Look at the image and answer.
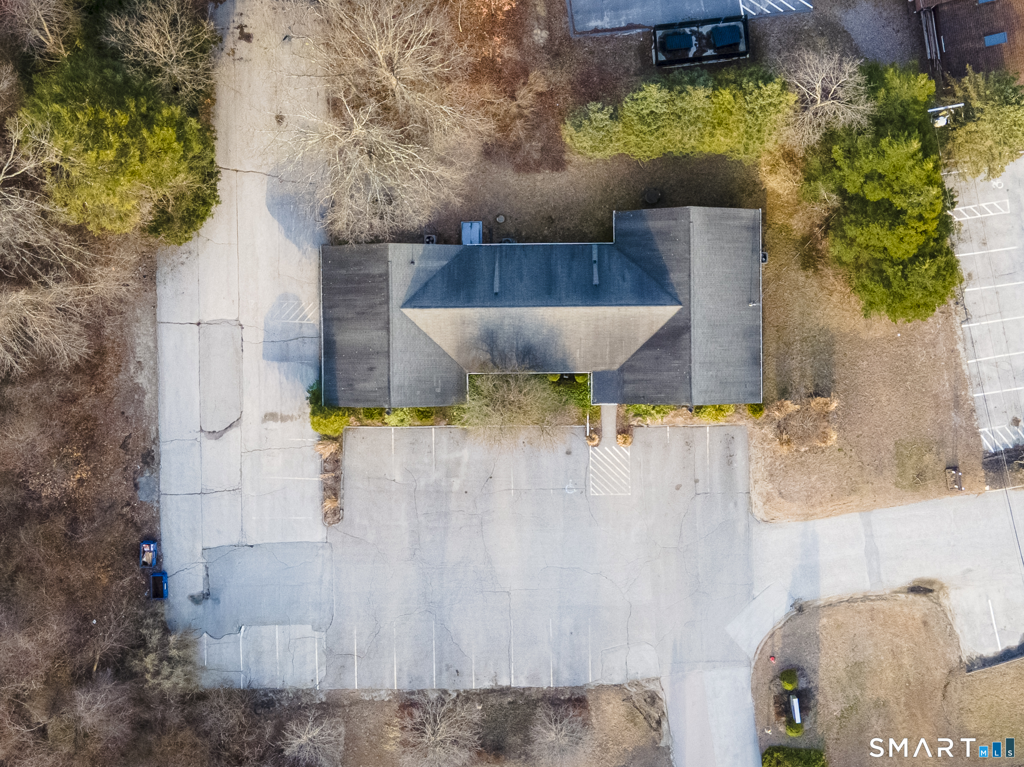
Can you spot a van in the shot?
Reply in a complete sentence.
No, there isn't any van down there.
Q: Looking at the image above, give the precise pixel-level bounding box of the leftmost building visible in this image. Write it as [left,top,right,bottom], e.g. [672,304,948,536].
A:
[319,204,765,415]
